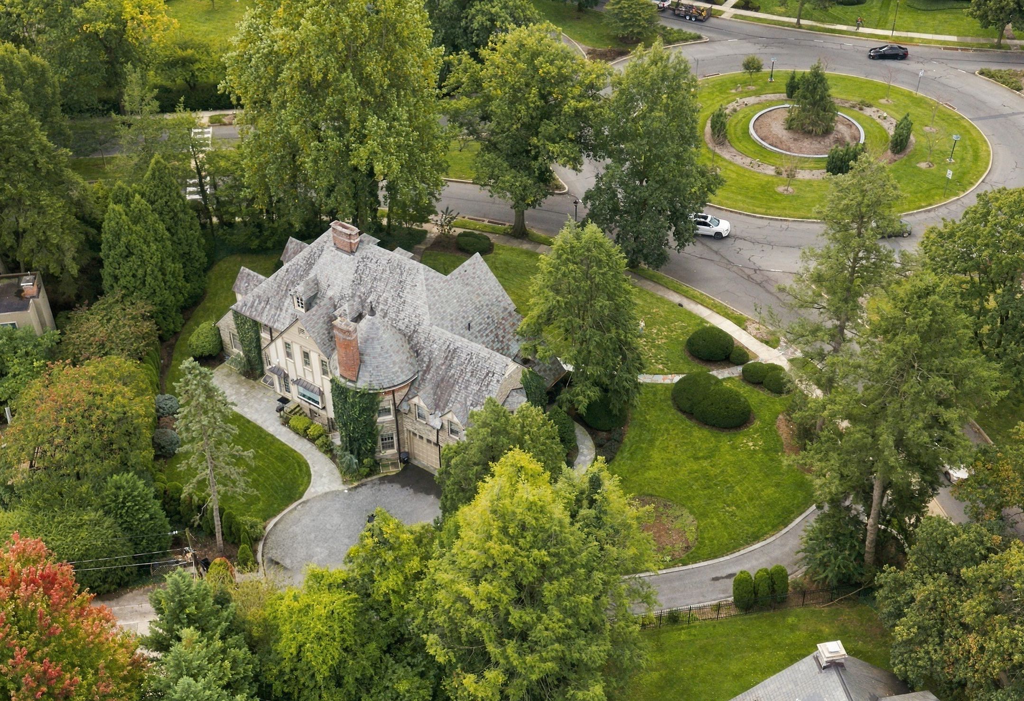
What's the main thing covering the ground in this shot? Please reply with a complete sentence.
Most of the picture is covered by trees.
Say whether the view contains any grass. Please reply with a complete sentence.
Yes, there's grass in this view.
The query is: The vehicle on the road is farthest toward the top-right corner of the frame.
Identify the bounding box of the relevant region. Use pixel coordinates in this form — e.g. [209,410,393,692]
[865,43,909,60]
